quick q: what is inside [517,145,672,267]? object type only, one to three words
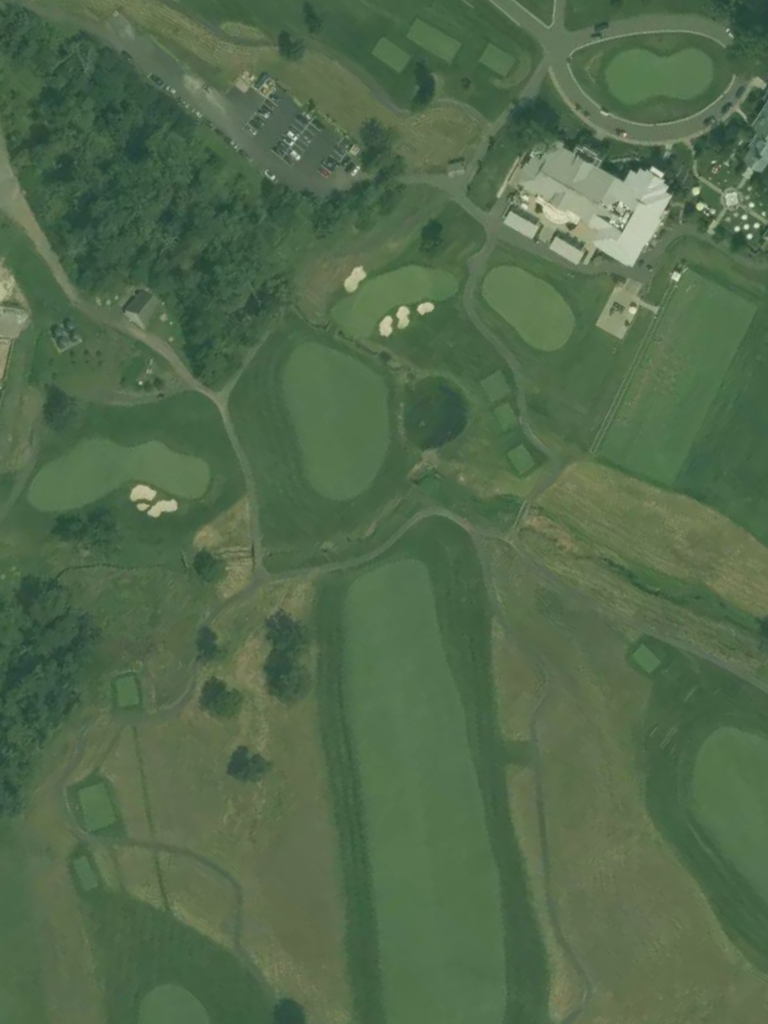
building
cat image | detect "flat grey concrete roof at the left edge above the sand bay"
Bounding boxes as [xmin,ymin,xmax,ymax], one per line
[0,307,28,337]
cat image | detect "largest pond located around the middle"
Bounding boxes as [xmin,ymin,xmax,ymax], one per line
[405,375,468,449]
